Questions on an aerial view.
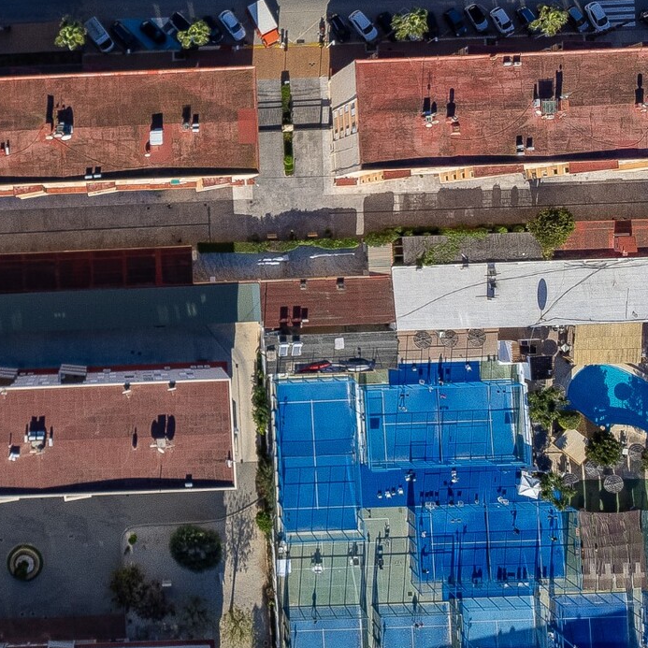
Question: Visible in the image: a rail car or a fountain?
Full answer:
There is a fountain in the scene.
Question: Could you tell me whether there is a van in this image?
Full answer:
Yes, the image includes a van.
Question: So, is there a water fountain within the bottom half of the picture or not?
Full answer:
Yes, the scene does show a water fountain within the bottom half of the picture.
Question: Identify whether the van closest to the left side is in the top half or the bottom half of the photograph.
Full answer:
You can find the van closest to the left side in the top half.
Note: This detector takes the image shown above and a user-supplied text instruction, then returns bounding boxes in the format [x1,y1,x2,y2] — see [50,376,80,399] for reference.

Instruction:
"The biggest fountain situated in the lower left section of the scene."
[7,543,44,583]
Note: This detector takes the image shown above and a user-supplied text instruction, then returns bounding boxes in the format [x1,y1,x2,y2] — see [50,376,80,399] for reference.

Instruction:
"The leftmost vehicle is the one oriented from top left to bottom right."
[83,15,114,54]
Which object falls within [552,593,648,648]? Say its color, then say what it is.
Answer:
blue sports court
